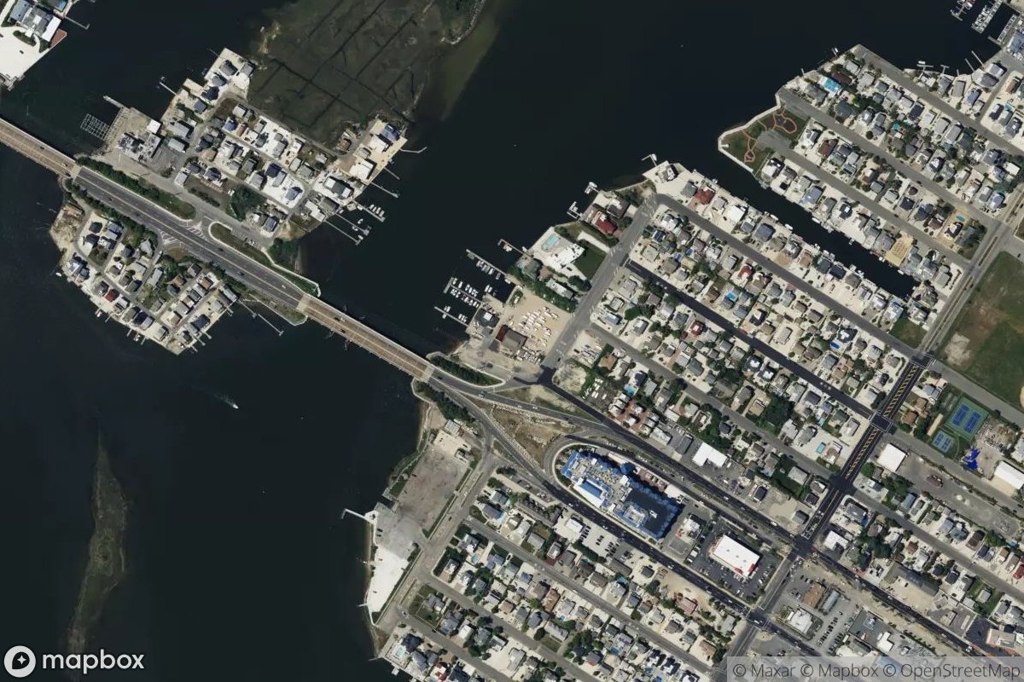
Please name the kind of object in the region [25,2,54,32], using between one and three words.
house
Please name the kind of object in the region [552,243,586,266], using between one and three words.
house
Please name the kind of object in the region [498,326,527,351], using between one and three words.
shed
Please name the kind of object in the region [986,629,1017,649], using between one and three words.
building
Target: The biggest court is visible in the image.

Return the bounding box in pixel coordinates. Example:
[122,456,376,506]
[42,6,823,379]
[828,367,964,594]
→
[945,396,989,443]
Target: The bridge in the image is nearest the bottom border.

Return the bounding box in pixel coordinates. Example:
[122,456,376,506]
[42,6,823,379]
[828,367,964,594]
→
[299,295,434,379]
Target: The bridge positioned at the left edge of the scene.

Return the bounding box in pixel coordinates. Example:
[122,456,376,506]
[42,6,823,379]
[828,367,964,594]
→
[0,119,78,176]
